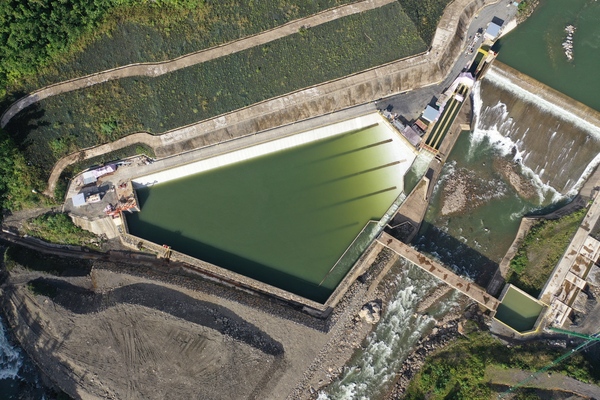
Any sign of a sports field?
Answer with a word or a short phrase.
No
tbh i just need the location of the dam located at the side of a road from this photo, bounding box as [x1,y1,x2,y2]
[469,60,600,197]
